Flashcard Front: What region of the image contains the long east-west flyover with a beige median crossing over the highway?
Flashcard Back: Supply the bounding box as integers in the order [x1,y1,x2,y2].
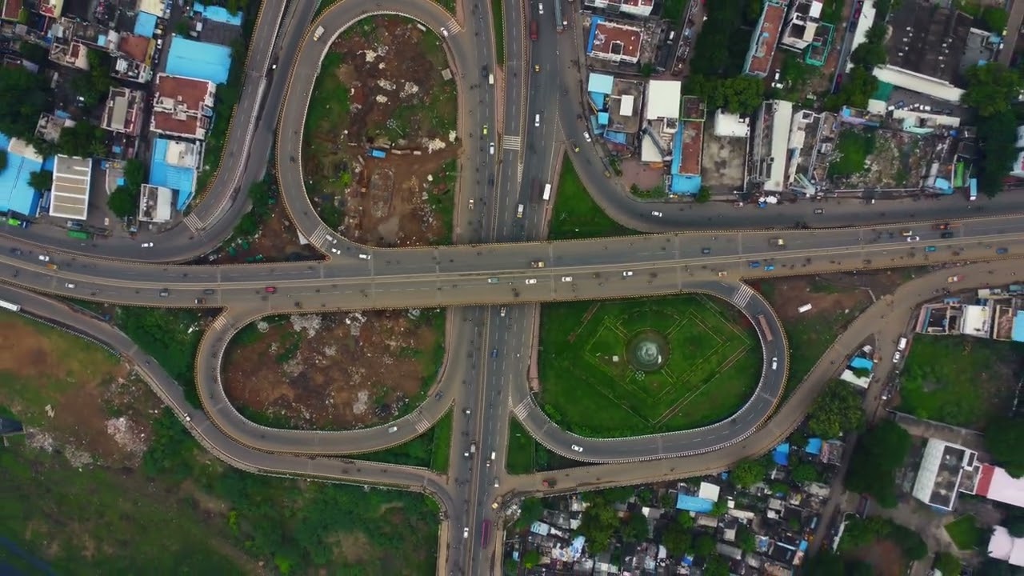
[0,212,1024,314]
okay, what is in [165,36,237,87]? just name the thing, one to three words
shed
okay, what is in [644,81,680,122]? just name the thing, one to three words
house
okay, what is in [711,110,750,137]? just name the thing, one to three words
house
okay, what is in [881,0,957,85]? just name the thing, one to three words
building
